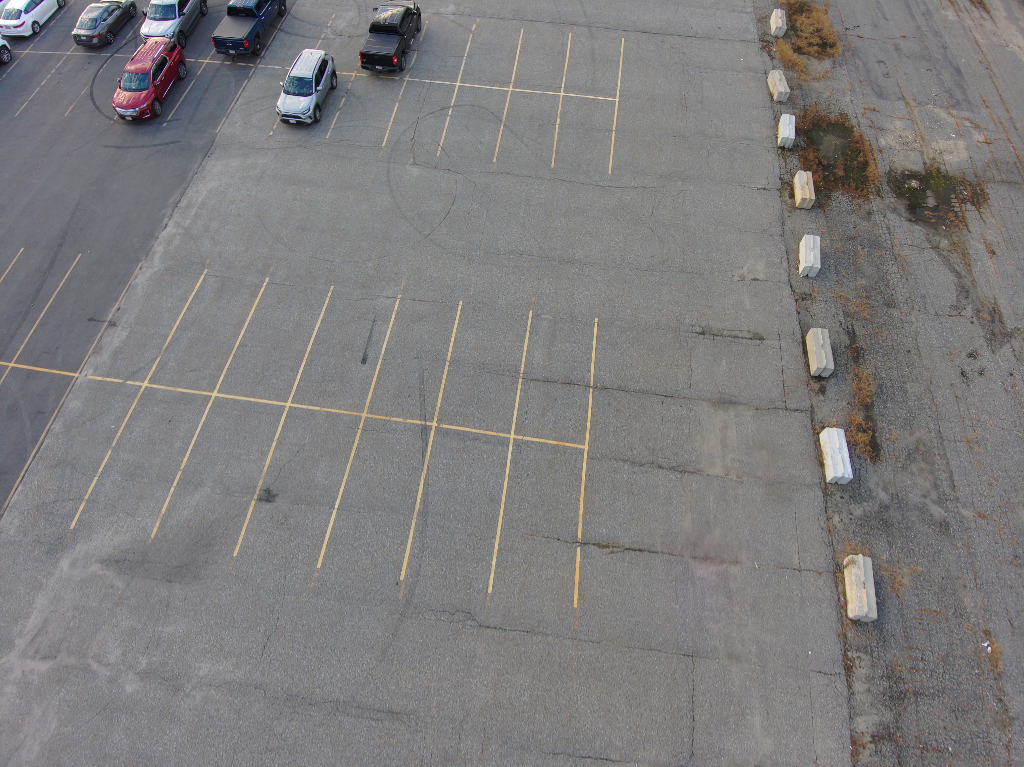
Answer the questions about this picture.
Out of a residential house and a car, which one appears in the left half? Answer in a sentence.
Visible in the left half is a car.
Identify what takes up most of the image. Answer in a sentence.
The scene is dominated by paved ground.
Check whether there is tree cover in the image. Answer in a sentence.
No, there is no tree cover in the image.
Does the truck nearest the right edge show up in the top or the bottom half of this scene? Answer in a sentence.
It is in the top half that the truck nearest the right edge appears.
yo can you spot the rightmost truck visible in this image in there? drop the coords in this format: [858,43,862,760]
[361,0,423,77]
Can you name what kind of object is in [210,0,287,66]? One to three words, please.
truck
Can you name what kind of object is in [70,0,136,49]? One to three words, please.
car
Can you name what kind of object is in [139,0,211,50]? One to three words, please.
car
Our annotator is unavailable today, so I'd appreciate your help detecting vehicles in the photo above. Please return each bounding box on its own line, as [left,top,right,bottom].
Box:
[0,37,12,64]
[112,38,188,121]
[276,48,336,127]
[0,0,64,39]
[210,0,287,66]
[70,0,136,49]
[361,0,423,77]
[139,0,211,50]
